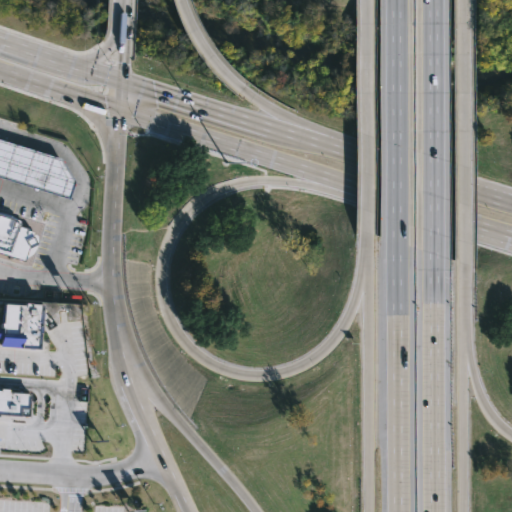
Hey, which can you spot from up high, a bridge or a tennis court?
bridge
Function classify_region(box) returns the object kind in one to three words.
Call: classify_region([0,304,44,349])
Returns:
building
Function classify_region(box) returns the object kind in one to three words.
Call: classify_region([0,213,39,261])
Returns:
building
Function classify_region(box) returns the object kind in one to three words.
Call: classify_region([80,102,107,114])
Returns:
vehicle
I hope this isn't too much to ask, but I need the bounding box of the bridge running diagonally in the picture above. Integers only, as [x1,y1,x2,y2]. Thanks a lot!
[175,0,330,128]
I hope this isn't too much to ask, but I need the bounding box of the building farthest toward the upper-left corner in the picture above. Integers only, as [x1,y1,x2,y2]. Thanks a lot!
[0,139,75,198]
